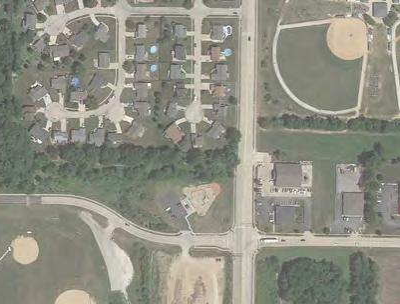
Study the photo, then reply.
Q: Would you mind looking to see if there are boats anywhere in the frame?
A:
No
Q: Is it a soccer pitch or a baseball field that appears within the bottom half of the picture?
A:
baseball field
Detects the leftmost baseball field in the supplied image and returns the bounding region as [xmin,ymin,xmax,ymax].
[7,231,39,264]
